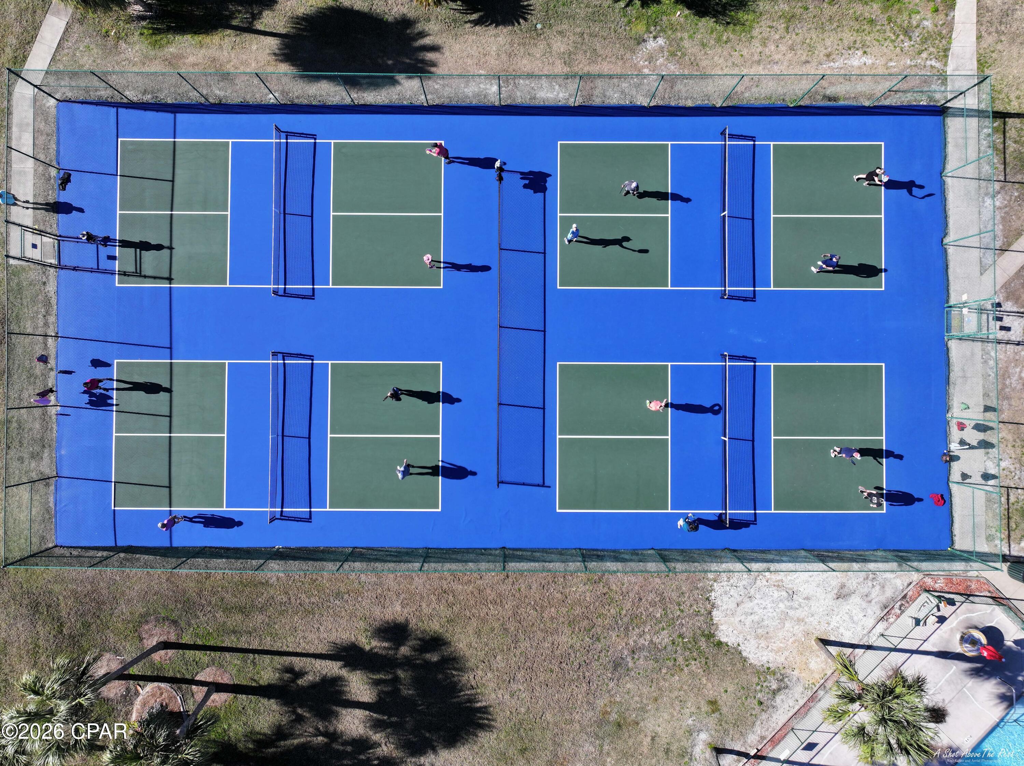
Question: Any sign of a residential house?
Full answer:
No, this view has no residential house in it.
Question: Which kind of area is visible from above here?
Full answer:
What you see here is a sports ground.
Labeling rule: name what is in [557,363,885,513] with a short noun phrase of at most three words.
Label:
sports court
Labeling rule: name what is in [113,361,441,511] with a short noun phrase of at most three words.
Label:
sports court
